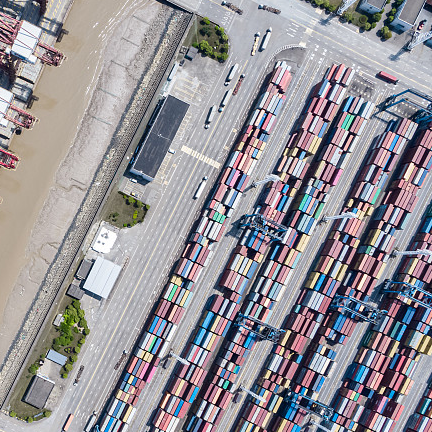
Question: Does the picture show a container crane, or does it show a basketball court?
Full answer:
The one in the frame is a container crane.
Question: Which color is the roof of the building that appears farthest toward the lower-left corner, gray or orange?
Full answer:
From above, the roof of the building that appears farthest toward the lower-left corner appears gray.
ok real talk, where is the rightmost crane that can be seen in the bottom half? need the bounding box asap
[380,280,432,310]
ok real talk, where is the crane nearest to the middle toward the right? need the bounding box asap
[237,211,291,241]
